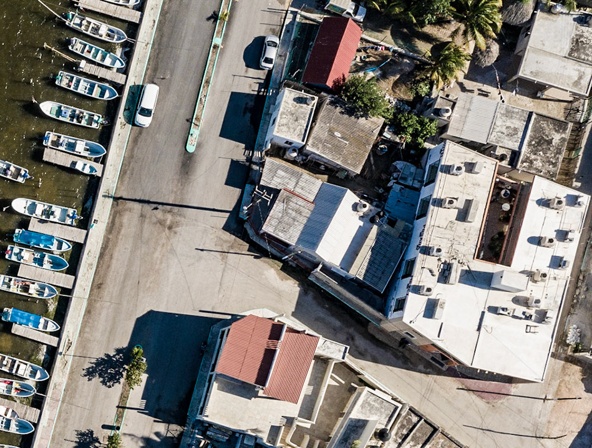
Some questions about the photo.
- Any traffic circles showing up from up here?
No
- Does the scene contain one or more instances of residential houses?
Yes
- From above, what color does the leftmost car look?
white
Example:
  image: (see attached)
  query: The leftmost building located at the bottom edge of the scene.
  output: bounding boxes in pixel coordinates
[197,315,350,448]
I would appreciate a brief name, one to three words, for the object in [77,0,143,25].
pier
